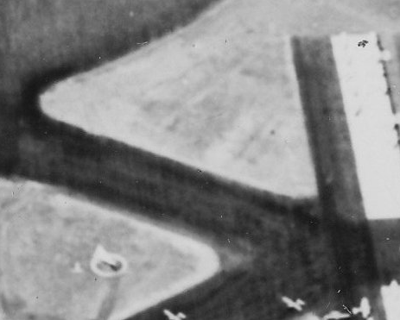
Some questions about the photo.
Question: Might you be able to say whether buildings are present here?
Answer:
No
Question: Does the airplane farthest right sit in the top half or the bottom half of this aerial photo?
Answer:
bottom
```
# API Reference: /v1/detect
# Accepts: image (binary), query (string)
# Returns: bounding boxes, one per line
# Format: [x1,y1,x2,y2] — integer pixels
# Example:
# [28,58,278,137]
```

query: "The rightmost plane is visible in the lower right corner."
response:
[349,298,371,319]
